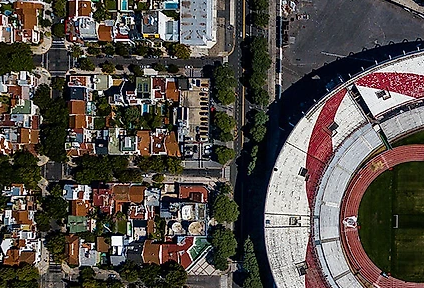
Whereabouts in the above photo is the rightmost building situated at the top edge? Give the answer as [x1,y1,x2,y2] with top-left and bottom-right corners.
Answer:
[180,0,217,48]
